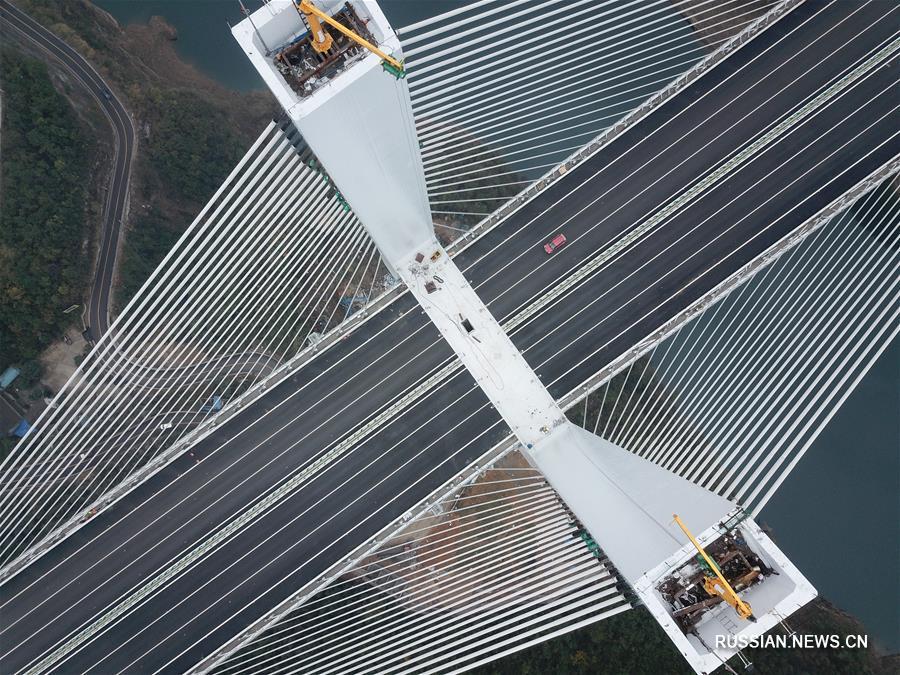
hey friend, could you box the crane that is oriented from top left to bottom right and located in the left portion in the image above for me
[286,0,404,78]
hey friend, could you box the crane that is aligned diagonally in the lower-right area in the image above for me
[670,512,761,629]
